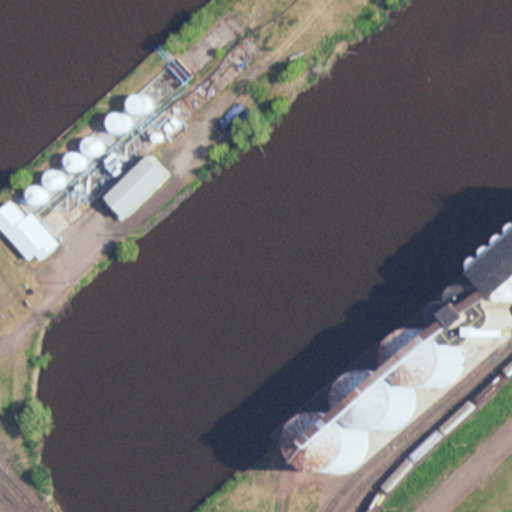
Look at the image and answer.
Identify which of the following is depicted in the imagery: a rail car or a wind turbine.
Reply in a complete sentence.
Visible in the photo is a rail car.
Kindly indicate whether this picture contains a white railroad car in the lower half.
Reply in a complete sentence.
Yes, looking in the lower half, one can make out a white railroad car.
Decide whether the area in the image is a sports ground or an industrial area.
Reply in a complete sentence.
This image shows an industrial area.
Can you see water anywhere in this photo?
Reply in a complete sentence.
Yes, there's water in this view.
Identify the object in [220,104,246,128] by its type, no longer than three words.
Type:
truck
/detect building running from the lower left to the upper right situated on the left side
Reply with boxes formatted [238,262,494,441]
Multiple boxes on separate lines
[104,156,172,220]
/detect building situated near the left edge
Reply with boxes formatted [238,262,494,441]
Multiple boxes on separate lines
[0,201,62,261]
